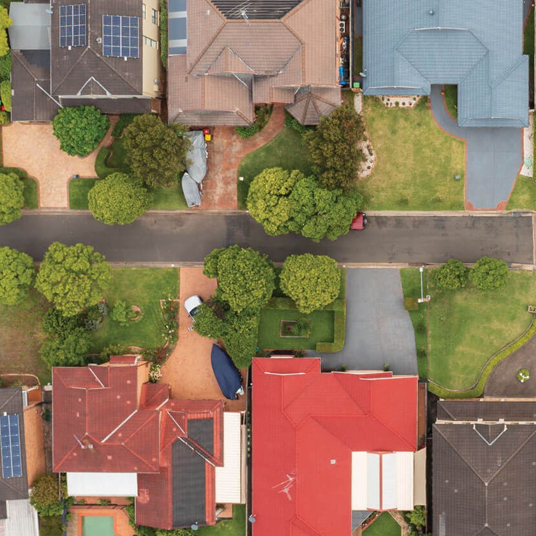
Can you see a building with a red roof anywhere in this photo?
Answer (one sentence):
Yes, a building with a red roof can be made out from above.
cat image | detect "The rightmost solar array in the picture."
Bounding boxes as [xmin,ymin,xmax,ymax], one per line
[103,15,140,58]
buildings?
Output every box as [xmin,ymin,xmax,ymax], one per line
[245,357,429,536]
[10,0,162,124]
[167,0,343,126]
[358,0,529,128]
[51,355,251,534]
[432,400,536,536]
